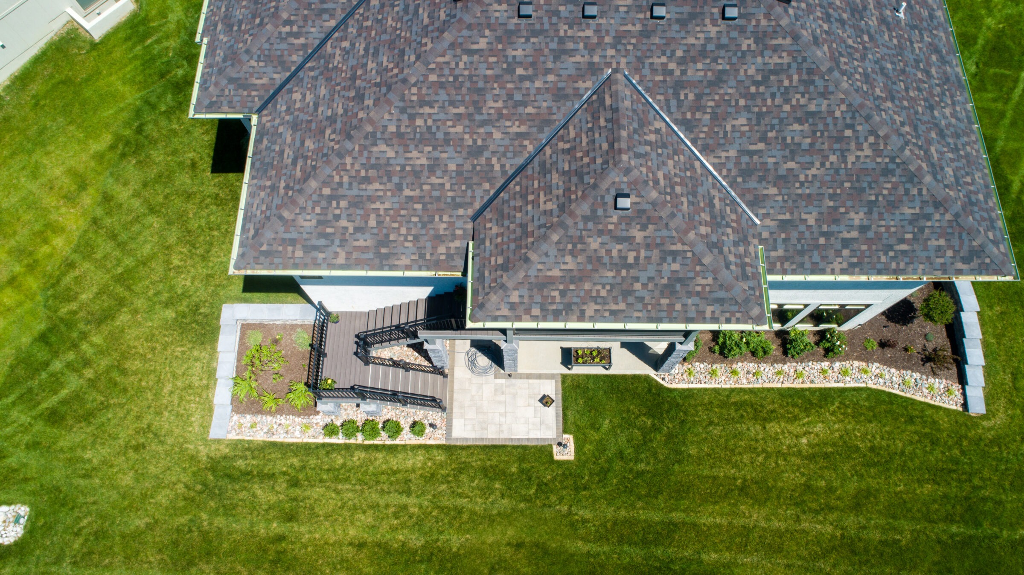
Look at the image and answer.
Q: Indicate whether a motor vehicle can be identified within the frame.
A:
No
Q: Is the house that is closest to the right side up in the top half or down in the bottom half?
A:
top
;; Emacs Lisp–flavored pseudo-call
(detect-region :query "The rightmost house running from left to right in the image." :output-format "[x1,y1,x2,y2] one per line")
[189,0,1019,332]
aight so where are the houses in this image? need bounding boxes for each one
[0,0,96,81]
[189,0,1019,332]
